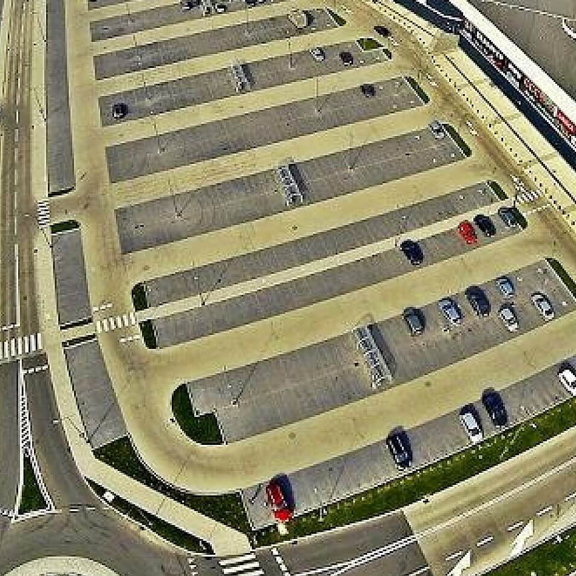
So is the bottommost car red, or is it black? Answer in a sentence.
The bottommost car is red.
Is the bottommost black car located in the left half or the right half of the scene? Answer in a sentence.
You can find the bottommost black car on the right side of the picture.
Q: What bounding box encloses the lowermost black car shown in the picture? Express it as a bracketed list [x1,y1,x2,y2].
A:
[385,429,418,472]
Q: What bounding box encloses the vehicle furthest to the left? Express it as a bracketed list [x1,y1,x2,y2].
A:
[113,102,125,120]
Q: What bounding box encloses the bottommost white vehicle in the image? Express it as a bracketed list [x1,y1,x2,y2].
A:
[456,409,488,445]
